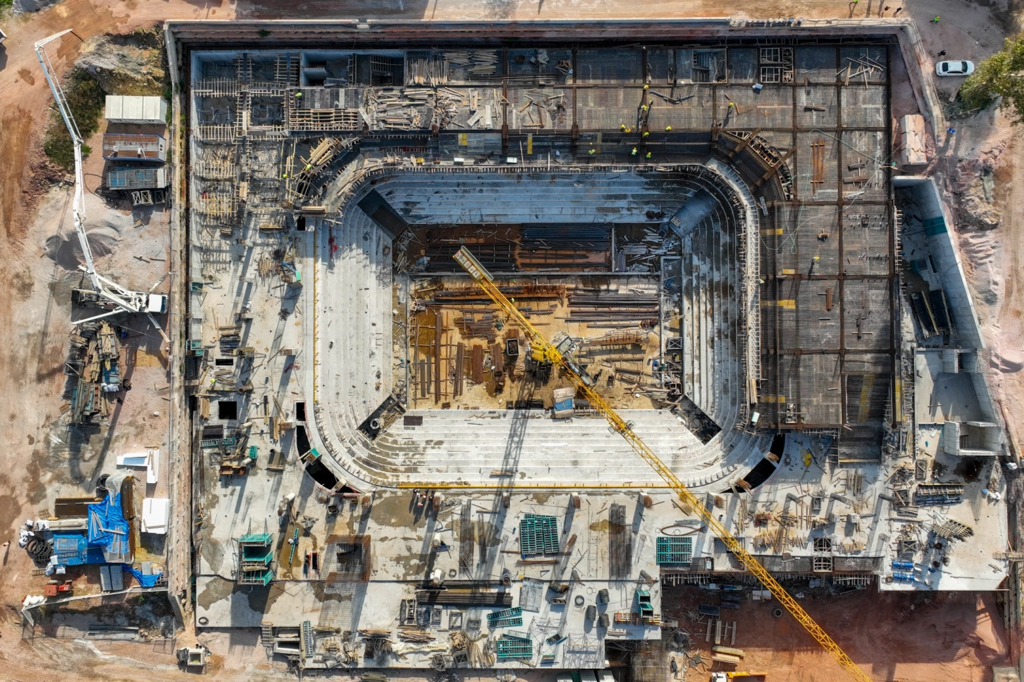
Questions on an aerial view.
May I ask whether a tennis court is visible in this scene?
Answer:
No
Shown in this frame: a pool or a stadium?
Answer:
stadium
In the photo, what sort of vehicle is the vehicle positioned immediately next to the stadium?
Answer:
truck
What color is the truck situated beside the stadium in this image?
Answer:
white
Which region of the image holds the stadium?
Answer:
center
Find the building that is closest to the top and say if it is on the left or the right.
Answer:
left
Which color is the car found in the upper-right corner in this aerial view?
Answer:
white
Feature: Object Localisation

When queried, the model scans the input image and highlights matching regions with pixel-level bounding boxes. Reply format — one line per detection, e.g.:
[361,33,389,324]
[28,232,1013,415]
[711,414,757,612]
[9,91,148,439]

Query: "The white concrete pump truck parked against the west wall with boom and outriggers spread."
[32,25,177,344]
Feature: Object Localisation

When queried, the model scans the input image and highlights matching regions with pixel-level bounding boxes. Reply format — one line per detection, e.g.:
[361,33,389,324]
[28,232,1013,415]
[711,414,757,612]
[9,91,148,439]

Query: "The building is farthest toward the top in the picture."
[105,96,166,123]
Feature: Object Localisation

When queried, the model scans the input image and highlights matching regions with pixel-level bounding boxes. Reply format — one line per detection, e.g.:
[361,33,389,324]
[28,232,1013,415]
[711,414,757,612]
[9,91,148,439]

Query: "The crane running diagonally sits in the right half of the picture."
[441,236,877,682]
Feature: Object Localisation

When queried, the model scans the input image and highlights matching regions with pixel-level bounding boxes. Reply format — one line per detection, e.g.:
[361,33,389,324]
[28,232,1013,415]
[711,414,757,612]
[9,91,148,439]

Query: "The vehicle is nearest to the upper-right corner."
[935,57,975,77]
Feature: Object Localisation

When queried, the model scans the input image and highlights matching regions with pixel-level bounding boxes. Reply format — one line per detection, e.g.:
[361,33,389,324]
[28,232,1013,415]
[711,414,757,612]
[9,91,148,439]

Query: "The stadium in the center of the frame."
[304,144,769,496]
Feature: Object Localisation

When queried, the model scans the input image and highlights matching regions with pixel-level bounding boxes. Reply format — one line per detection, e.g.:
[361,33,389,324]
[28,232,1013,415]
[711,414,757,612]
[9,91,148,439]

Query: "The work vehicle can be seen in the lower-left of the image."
[44,580,73,599]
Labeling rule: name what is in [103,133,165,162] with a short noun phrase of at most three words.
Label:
building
